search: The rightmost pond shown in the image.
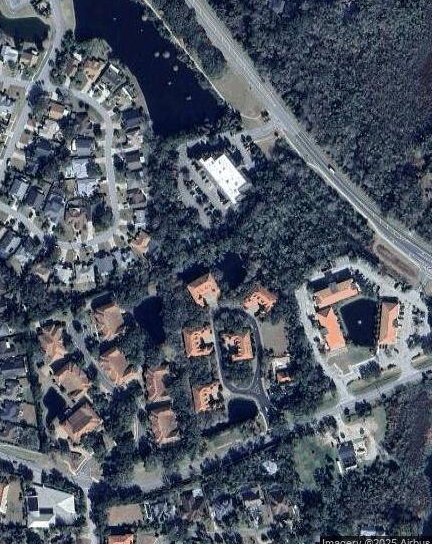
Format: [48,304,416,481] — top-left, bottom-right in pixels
[338,296,381,348]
